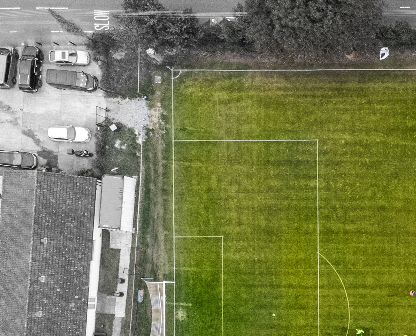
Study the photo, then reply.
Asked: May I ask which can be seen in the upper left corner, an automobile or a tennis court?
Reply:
automobile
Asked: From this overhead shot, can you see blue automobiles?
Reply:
No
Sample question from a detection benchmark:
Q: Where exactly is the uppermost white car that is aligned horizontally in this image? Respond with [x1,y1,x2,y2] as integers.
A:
[49,46,91,65]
